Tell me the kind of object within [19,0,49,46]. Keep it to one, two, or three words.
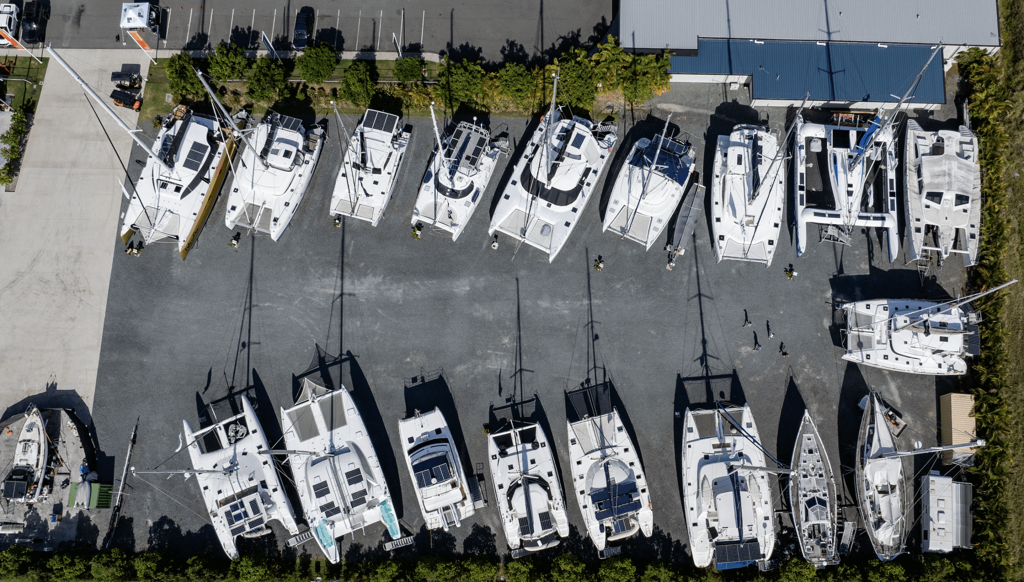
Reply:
car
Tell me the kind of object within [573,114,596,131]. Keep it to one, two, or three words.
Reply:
boat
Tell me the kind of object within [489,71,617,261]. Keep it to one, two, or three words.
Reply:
boat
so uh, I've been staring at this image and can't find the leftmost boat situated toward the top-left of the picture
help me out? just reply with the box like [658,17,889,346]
[46,45,245,260]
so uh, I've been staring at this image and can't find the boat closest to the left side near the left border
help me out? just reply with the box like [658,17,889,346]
[4,405,65,502]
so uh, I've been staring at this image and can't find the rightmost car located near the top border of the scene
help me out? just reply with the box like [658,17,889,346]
[291,7,315,52]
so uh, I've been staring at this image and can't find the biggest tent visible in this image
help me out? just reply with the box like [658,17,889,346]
[120,2,157,38]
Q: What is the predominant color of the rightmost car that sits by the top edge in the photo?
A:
black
